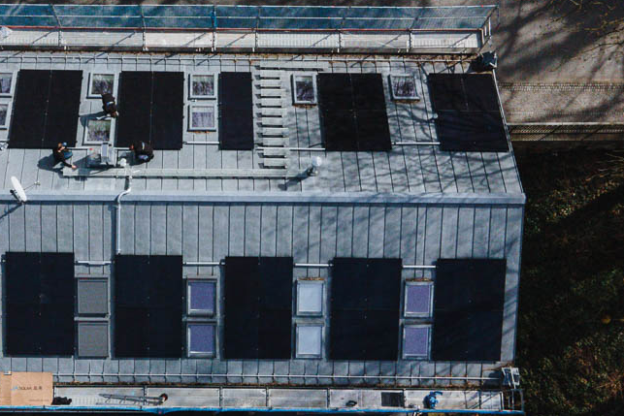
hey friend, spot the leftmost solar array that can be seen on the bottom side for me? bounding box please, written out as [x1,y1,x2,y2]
[6,252,75,356]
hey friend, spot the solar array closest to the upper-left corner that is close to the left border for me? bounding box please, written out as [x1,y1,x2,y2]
[9,70,85,149]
